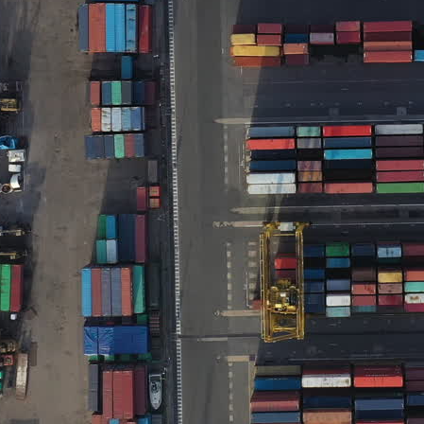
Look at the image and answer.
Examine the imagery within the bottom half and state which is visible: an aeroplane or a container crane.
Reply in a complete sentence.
The feature located within the bottom half is a container crane.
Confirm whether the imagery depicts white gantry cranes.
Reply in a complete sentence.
No, there isn't any white gantry crane down there.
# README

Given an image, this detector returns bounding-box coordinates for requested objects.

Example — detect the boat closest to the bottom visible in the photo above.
[149,374,162,411]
